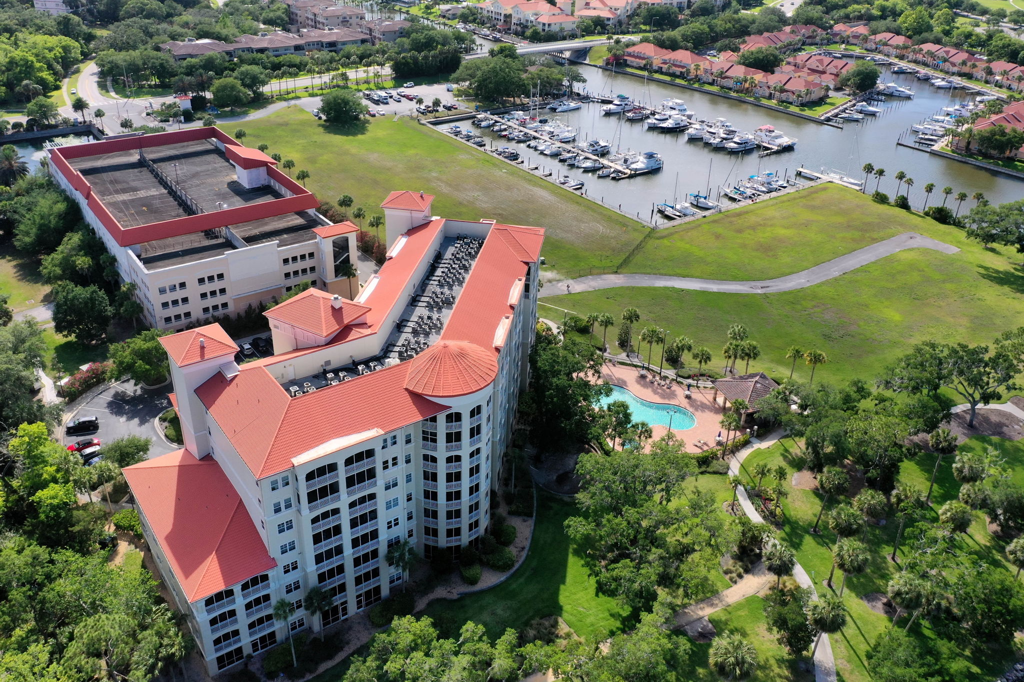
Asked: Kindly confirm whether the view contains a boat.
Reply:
Yes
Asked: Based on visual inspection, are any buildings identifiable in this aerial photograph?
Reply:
Yes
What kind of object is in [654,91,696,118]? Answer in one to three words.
boat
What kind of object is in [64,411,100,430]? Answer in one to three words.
car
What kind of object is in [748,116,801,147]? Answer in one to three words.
boat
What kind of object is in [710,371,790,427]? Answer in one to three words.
building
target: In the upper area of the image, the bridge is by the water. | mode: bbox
[461,36,667,66]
